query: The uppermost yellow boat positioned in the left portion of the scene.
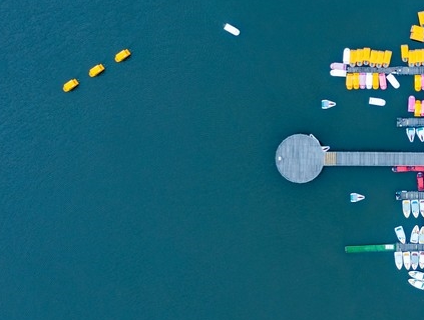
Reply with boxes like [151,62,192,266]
[115,48,132,61]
